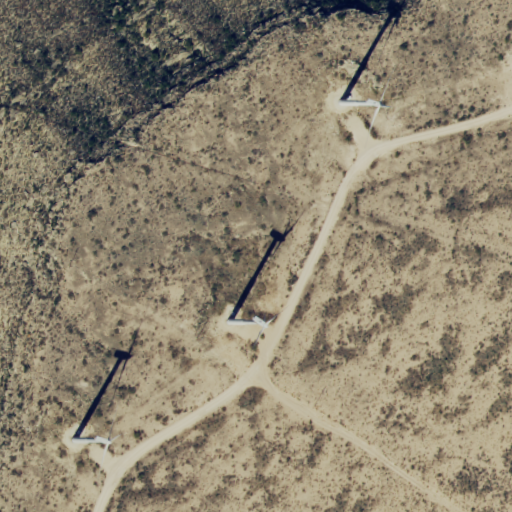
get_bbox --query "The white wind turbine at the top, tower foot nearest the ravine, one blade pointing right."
[336,78,388,132]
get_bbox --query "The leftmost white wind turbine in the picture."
[69,422,120,473]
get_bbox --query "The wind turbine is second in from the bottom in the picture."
[224,308,281,352]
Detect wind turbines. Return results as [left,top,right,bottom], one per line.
[69,422,120,473]
[224,308,281,352]
[336,78,388,132]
